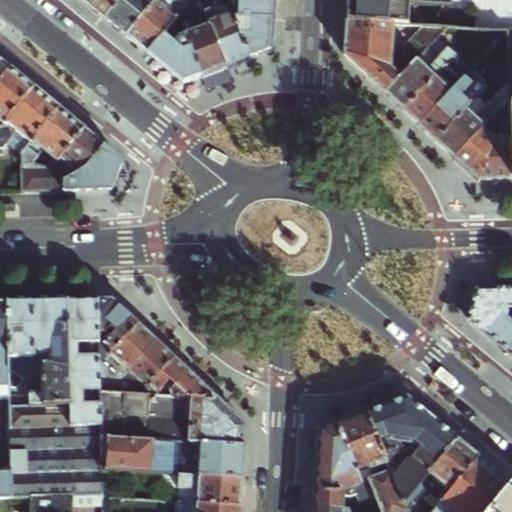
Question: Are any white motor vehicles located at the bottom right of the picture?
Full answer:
Yes, a white motor vehicle shows up at the bottom right of the picture.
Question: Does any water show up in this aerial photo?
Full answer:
No, there's no water in this view.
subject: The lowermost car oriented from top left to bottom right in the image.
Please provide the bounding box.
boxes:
[487,429,507,447]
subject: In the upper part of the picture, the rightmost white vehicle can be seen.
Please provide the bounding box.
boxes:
[204,146,229,166]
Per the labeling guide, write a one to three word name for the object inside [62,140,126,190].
building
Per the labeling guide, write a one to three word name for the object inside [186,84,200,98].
umbrella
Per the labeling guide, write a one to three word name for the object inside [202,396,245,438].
house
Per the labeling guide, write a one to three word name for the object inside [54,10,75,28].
car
